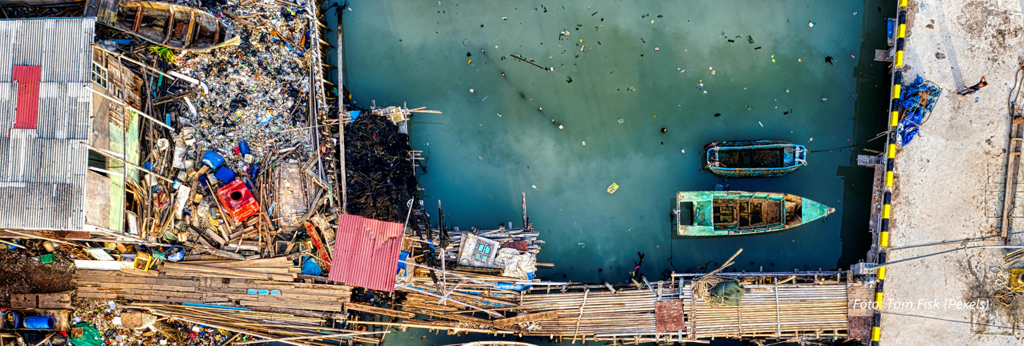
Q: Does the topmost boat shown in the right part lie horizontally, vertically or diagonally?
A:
horizontally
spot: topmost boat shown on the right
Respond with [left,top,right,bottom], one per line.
[704,138,807,179]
